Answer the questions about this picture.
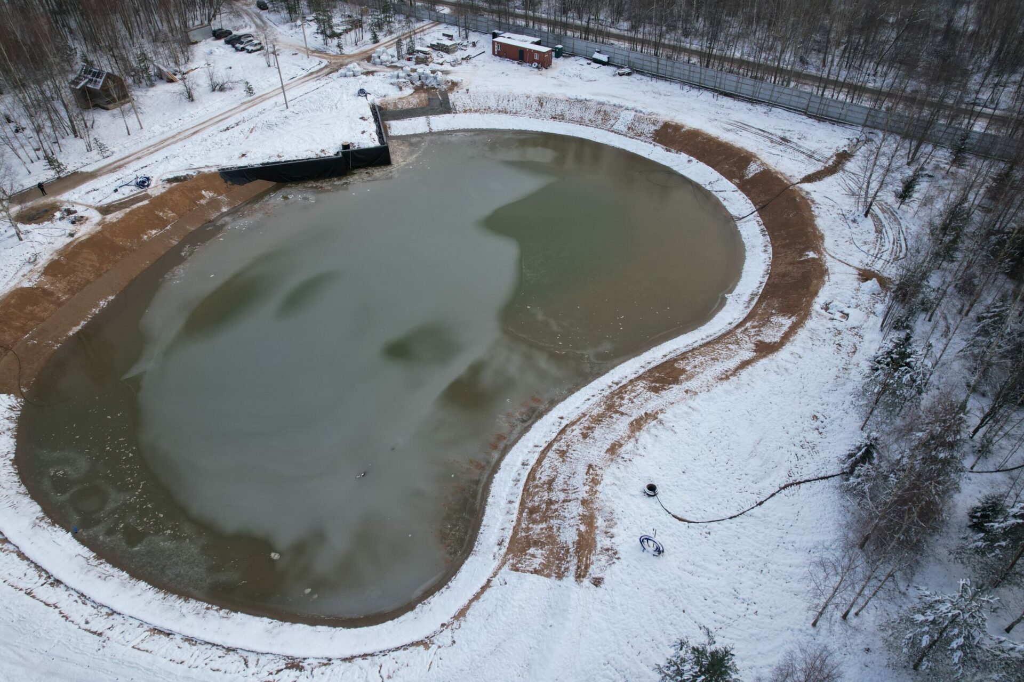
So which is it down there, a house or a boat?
house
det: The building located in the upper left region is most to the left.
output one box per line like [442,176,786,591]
[68,61,141,111]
